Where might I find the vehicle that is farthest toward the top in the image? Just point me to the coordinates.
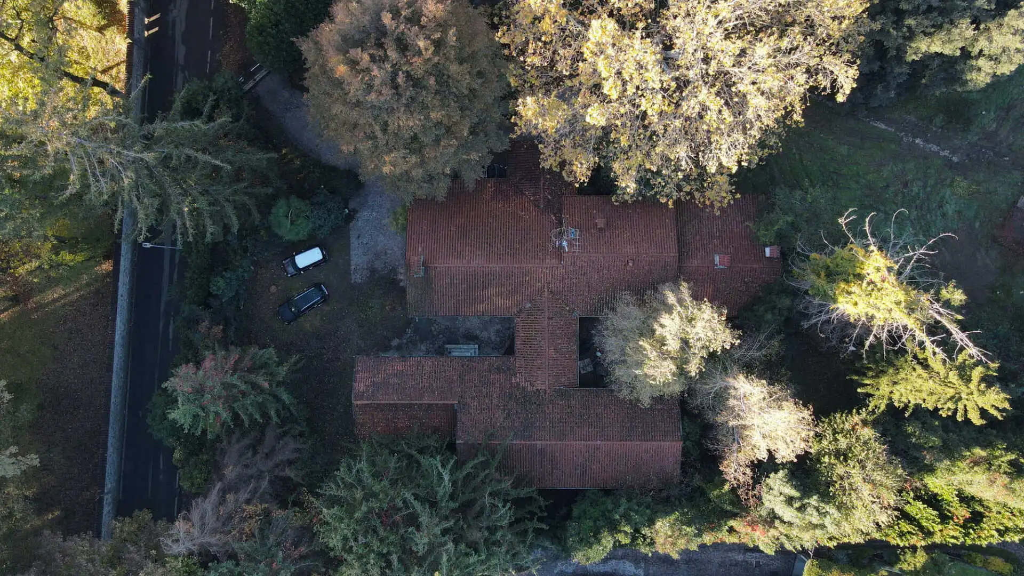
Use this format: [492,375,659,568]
[282,243,329,276]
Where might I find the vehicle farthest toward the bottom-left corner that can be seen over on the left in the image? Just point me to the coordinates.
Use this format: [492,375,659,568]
[275,281,333,324]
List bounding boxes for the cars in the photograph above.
[275,281,333,324]
[282,243,329,276]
